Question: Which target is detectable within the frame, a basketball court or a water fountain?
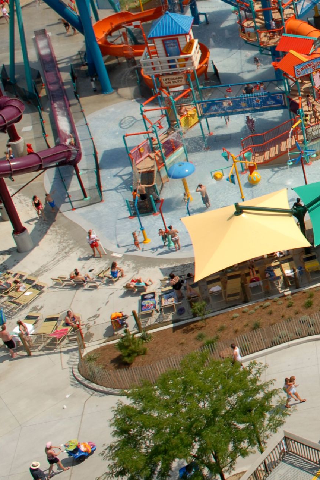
water fountain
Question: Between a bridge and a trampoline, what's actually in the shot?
bridge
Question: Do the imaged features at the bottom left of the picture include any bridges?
No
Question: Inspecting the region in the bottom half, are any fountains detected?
No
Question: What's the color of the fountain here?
blue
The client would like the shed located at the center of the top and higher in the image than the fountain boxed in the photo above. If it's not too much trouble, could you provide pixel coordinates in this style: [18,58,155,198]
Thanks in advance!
[133,12,212,128]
